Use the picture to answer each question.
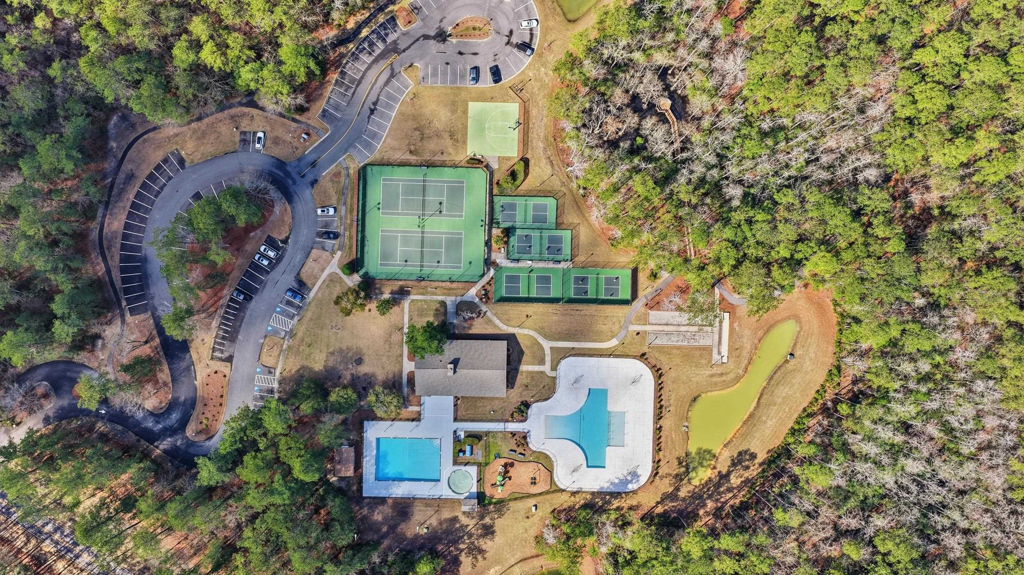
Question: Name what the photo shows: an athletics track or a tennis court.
tennis court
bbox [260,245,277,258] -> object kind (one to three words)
vehicle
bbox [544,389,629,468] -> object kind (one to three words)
swimming pool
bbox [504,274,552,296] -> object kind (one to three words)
sports court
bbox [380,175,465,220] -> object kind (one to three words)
tennis court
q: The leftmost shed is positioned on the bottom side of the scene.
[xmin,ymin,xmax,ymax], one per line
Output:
[334,446,355,477]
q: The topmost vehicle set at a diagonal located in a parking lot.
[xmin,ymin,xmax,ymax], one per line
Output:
[516,41,535,56]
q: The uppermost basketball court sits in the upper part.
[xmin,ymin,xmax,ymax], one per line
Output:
[467,102,519,156]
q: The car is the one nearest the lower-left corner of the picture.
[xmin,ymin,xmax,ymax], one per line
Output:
[233,290,248,302]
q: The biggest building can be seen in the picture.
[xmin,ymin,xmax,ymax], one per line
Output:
[415,339,507,397]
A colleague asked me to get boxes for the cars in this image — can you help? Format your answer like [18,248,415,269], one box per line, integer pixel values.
[520,18,538,28]
[286,289,302,301]
[260,245,277,258]
[490,65,501,83]
[321,232,339,240]
[317,207,335,215]
[254,254,270,266]
[470,66,478,84]
[233,290,248,302]
[256,131,265,149]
